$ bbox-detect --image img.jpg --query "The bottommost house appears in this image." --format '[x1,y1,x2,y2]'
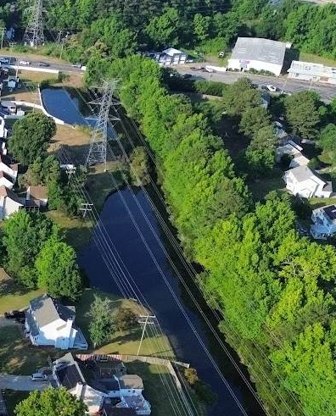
[51,351,153,416]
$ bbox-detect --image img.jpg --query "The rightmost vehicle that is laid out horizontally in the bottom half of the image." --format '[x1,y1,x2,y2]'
[27,369,55,382]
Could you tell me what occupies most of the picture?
trees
